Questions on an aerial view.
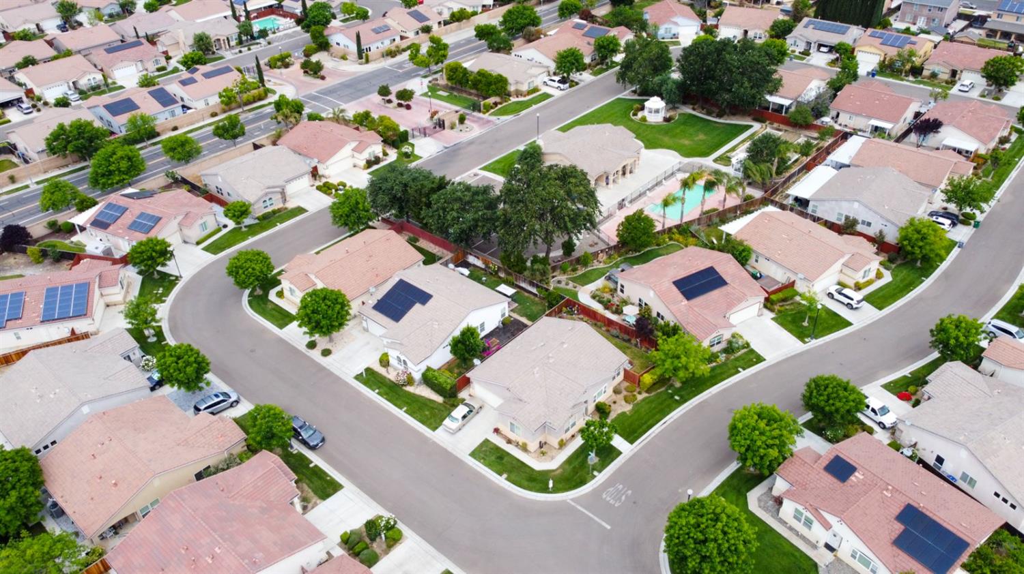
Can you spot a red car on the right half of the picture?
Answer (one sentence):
No, no red car appears on the right half of the picture.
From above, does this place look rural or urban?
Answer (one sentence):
The land in this view is best described as urban.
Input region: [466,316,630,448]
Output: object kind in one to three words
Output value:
house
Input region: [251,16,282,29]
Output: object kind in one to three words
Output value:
swimming pool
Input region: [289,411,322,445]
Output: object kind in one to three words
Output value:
car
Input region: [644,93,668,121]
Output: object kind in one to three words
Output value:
gazebo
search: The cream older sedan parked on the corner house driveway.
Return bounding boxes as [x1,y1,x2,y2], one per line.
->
[441,398,483,433]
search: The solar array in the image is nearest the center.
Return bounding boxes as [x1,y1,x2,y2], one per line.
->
[371,278,432,320]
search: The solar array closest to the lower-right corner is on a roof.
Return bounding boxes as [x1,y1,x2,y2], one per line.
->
[892,503,970,574]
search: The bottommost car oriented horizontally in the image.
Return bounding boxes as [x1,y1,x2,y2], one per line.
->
[190,393,240,416]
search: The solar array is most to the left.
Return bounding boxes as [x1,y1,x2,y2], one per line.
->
[0,291,25,321]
